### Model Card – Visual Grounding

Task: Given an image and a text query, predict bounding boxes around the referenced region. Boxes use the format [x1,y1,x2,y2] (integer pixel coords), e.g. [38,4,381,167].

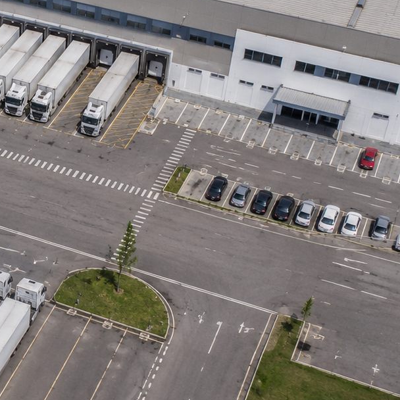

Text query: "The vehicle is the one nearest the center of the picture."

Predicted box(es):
[206,178,227,202]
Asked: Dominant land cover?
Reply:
paved ground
